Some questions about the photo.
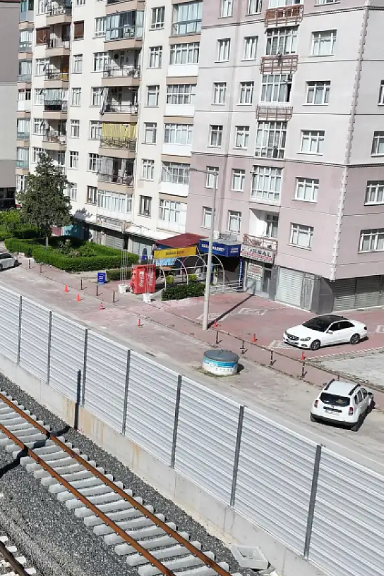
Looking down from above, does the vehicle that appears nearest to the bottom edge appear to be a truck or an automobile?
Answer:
automobile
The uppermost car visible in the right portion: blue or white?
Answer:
white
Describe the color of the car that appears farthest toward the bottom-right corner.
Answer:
white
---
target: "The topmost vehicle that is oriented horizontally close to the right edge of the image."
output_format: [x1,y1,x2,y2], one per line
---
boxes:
[280,312,369,348]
